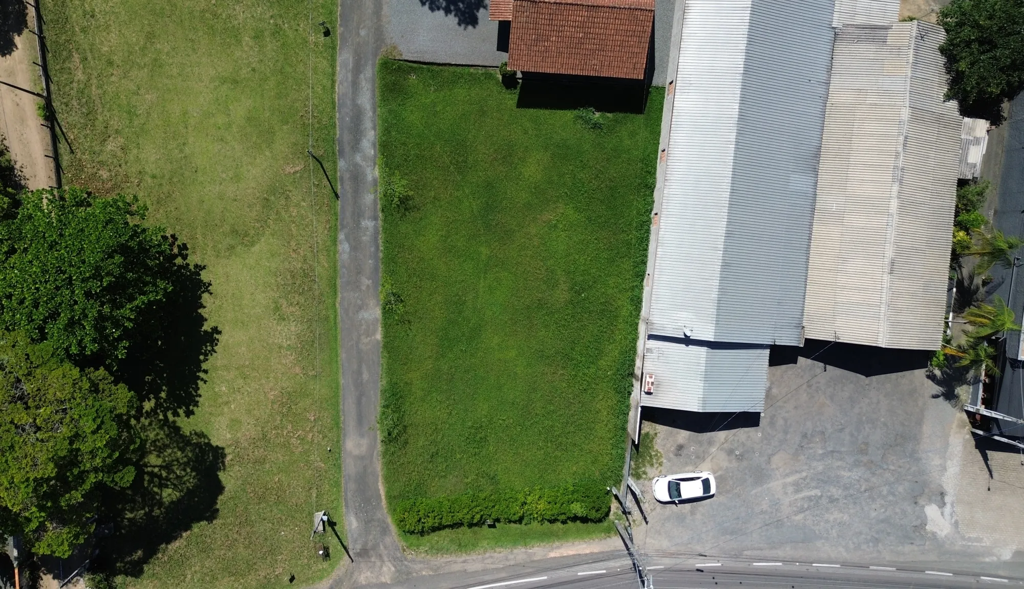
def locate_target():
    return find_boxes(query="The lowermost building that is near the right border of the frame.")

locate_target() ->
[970,358,1024,437]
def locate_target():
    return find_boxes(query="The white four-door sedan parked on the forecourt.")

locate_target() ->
[652,471,716,504]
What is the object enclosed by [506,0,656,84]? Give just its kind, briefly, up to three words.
house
